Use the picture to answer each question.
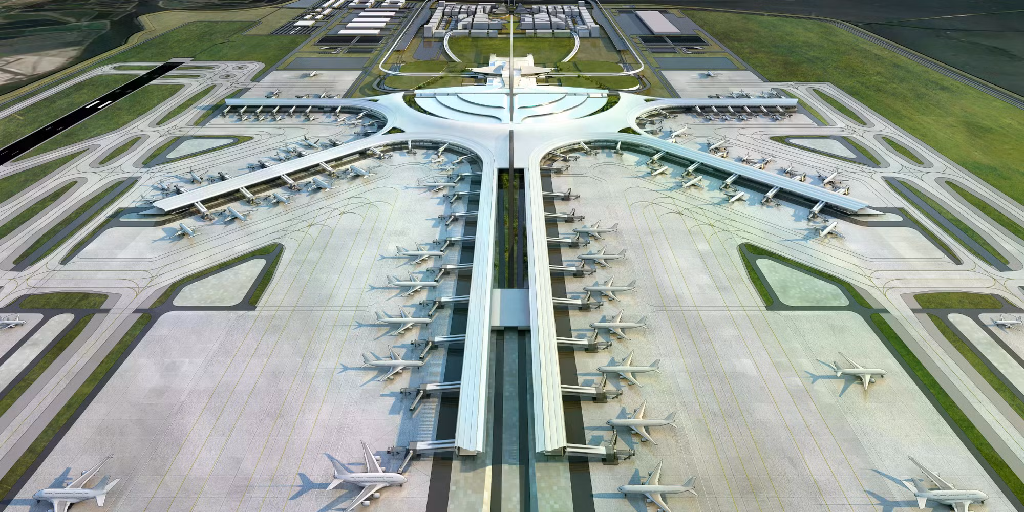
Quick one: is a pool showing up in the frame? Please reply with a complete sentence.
No, I can't see a single pool in this photo.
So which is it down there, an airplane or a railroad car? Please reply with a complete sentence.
This aerial view contains an airplane.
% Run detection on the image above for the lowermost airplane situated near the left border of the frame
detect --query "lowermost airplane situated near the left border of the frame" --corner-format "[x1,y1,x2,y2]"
[33,454,119,512]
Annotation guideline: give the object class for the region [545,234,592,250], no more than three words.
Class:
jet bridge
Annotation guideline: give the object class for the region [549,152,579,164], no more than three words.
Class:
jet bridge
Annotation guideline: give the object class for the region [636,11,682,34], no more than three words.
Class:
hangar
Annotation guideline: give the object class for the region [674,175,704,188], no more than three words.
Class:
airplane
